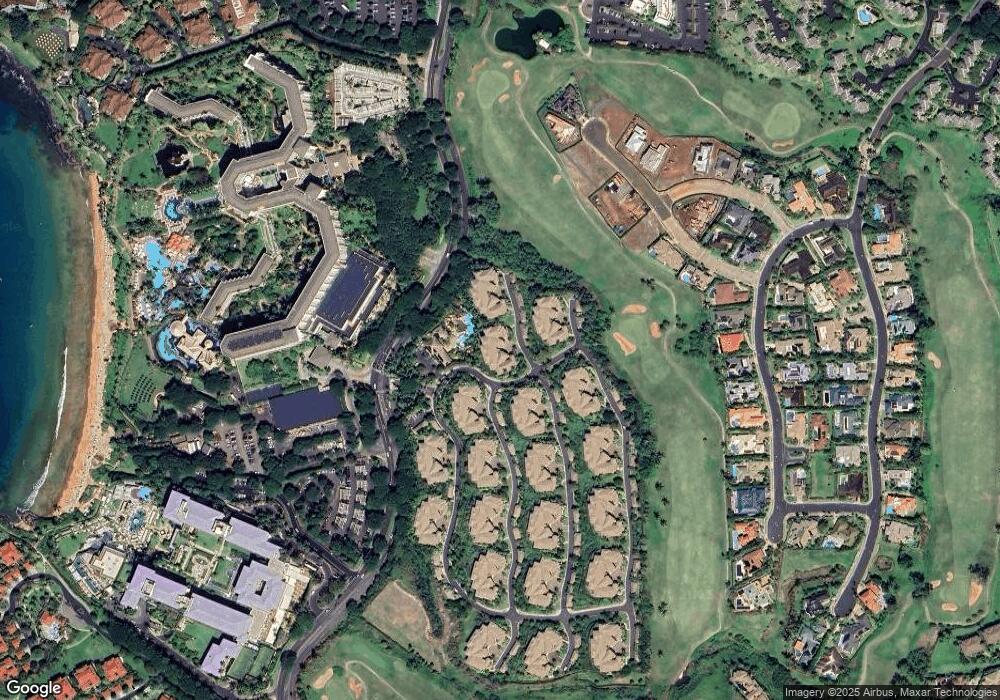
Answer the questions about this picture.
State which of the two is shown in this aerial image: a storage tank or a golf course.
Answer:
golf course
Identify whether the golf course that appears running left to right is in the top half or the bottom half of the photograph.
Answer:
bottom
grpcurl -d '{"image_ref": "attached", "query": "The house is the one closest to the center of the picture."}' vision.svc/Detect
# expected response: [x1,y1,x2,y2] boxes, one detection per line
[479,324,515,374]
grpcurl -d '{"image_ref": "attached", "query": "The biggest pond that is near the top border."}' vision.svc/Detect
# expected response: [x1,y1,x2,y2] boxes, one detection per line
[495,9,563,59]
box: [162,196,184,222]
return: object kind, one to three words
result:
swimming pool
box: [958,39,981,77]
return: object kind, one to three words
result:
building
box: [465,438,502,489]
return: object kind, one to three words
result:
house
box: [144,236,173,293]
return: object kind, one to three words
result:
swimming pool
